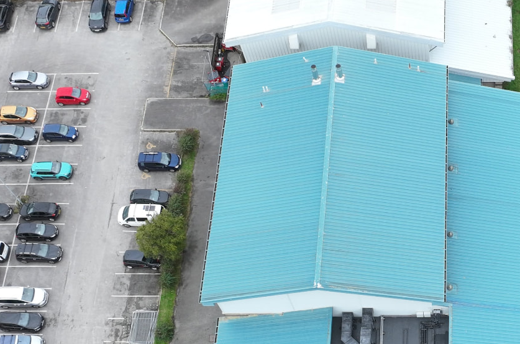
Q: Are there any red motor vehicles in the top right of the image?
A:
No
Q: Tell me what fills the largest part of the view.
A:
buildings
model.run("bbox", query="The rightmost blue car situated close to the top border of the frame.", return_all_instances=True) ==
[114,0,136,24]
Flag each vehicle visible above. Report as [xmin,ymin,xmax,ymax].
[41,124,83,145]
[215,44,233,59]
[118,203,170,227]
[14,222,62,244]
[0,310,48,334]
[120,251,163,271]
[87,0,113,34]
[0,125,42,146]
[128,188,173,208]
[0,203,17,223]
[13,243,66,266]
[0,0,16,34]
[55,87,94,107]
[114,0,136,24]
[0,334,48,344]
[0,143,31,163]
[0,285,50,310]
[138,152,183,174]
[17,201,66,224]
[0,241,13,262]
[36,0,62,31]
[28,160,77,183]
[8,71,52,91]
[0,105,42,127]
